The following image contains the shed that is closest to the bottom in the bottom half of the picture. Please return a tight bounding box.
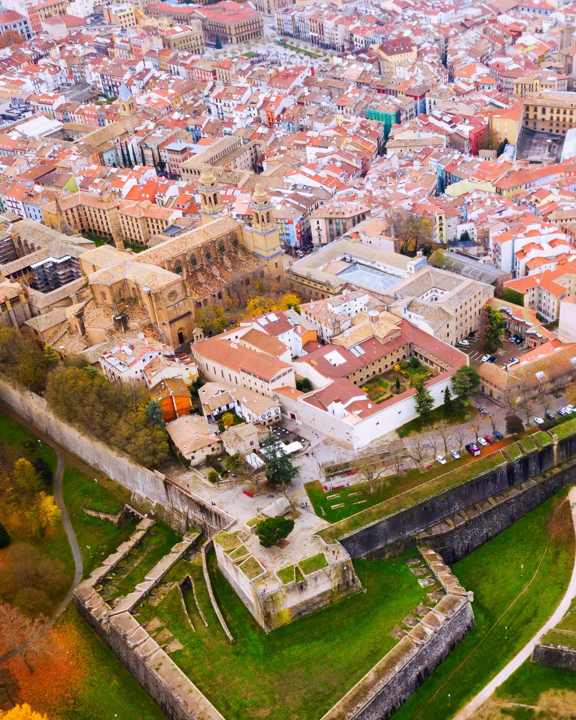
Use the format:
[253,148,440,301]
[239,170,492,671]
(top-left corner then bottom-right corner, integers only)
[260,498,292,519]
